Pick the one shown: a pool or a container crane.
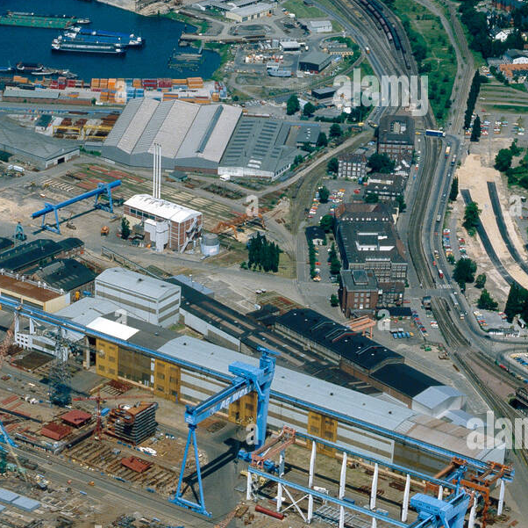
container crane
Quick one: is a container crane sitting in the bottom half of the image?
Yes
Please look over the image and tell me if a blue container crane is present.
Yes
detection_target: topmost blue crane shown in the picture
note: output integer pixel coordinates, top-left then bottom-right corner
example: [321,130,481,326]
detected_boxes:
[30,180,123,230]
